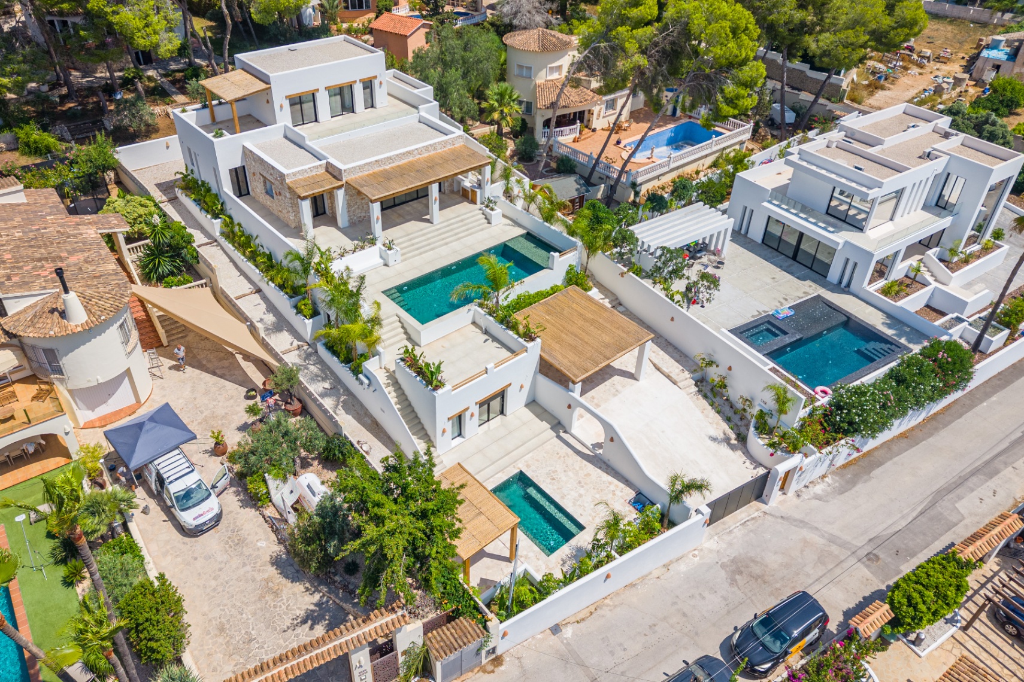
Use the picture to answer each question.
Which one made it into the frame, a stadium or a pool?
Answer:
pool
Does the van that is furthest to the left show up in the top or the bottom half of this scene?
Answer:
bottom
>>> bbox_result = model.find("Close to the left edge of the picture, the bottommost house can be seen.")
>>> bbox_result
[0,174,159,502]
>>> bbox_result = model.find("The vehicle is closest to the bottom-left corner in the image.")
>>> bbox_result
[151,454,228,536]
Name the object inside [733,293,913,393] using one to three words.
swimming pool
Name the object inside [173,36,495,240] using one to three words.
house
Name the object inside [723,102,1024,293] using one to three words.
house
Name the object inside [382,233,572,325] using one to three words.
swimming pool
